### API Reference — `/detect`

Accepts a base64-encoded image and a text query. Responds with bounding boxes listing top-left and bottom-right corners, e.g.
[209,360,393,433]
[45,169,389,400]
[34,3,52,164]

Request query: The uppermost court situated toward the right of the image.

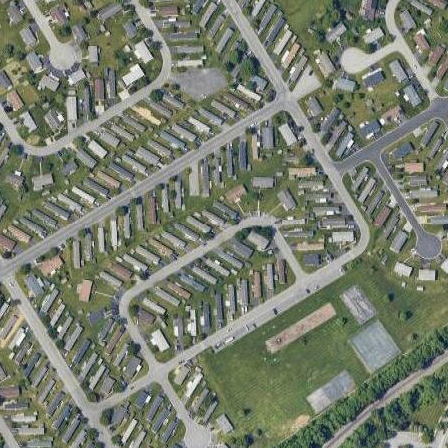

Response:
[341,287,376,325]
